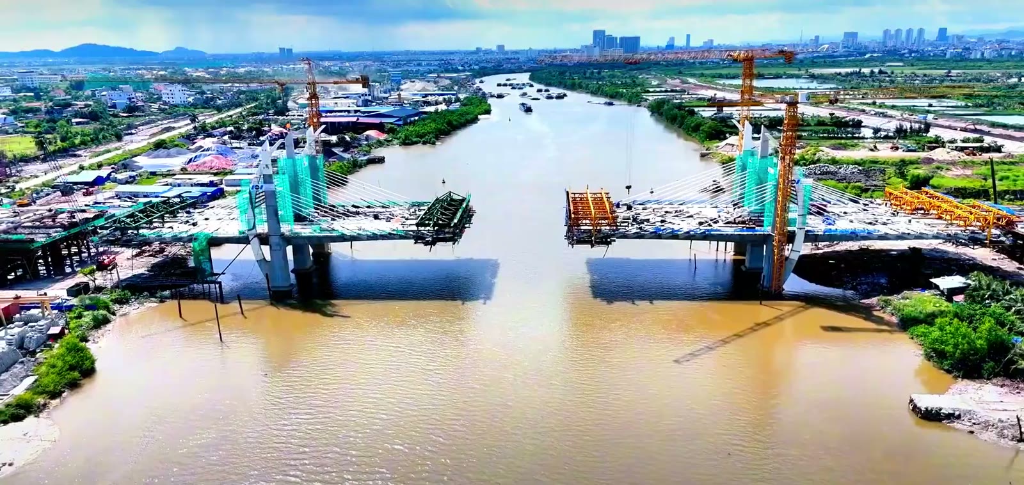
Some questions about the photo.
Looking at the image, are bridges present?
Yes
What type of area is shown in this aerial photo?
port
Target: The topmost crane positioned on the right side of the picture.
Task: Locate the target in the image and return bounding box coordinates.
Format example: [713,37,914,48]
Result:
[547,52,783,193]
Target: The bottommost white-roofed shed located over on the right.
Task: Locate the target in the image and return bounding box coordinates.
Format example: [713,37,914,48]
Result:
[926,274,981,298]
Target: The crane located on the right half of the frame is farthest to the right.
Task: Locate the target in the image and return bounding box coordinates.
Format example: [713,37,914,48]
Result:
[710,95,966,301]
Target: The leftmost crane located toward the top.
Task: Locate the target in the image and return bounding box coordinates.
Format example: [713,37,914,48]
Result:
[43,137,76,204]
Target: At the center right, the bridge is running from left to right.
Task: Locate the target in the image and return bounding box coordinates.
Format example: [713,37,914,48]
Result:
[611,119,993,295]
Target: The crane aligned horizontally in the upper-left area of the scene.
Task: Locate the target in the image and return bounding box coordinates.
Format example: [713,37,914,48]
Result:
[51,62,376,150]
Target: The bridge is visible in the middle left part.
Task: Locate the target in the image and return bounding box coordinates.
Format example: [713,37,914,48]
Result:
[80,124,430,294]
